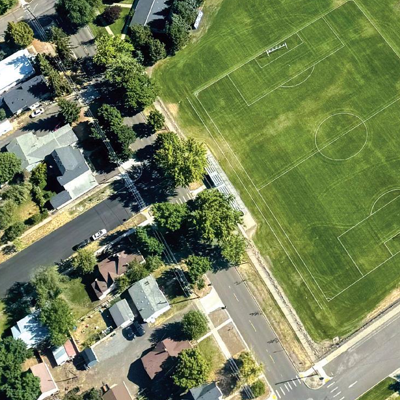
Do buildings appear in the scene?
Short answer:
Yes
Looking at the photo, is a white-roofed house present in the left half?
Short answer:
Yes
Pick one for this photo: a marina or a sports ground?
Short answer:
sports ground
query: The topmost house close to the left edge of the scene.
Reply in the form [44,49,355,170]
[0,49,37,98]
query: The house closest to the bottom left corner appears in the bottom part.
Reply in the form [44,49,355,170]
[32,358,60,400]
